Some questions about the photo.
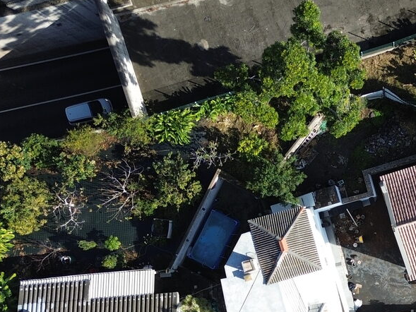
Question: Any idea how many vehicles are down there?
1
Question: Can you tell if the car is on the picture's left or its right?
left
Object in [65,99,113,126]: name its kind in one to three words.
car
